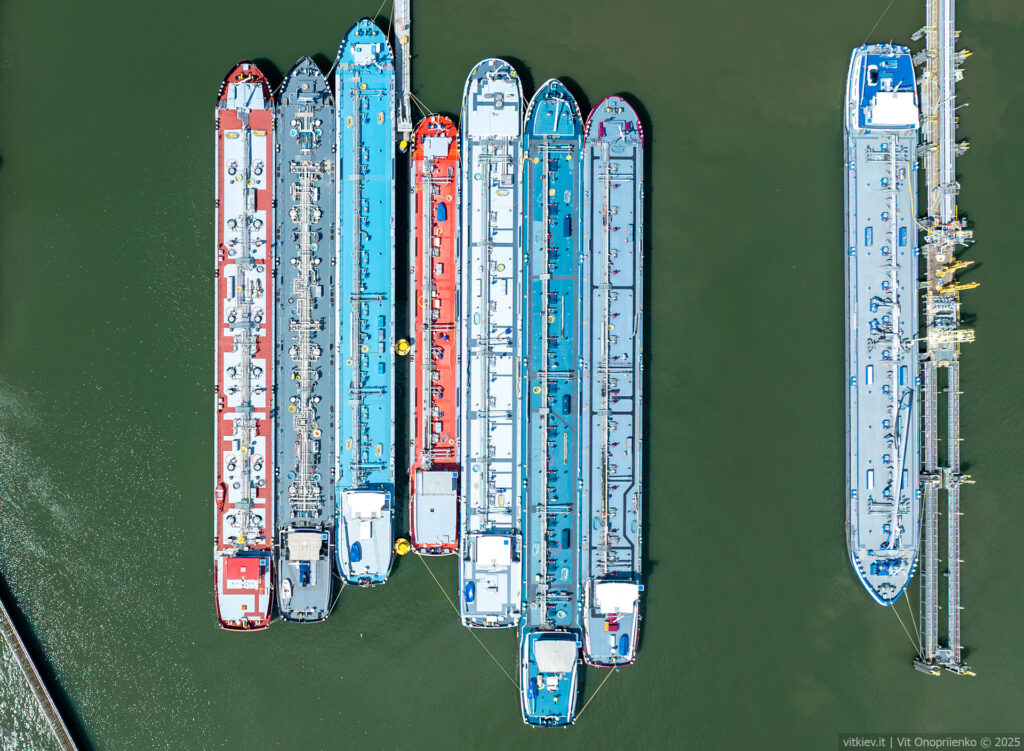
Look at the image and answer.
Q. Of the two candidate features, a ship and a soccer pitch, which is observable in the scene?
ship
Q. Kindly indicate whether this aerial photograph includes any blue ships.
Yes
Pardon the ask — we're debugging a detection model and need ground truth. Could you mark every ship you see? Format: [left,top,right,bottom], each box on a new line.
[581,96,644,666]
[274,55,338,622]
[214,60,277,631]
[519,79,584,728]
[335,17,397,586]
[460,58,523,629]
[843,40,922,606]
[410,114,461,556]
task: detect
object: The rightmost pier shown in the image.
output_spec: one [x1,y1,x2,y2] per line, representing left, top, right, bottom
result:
[919,0,966,668]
